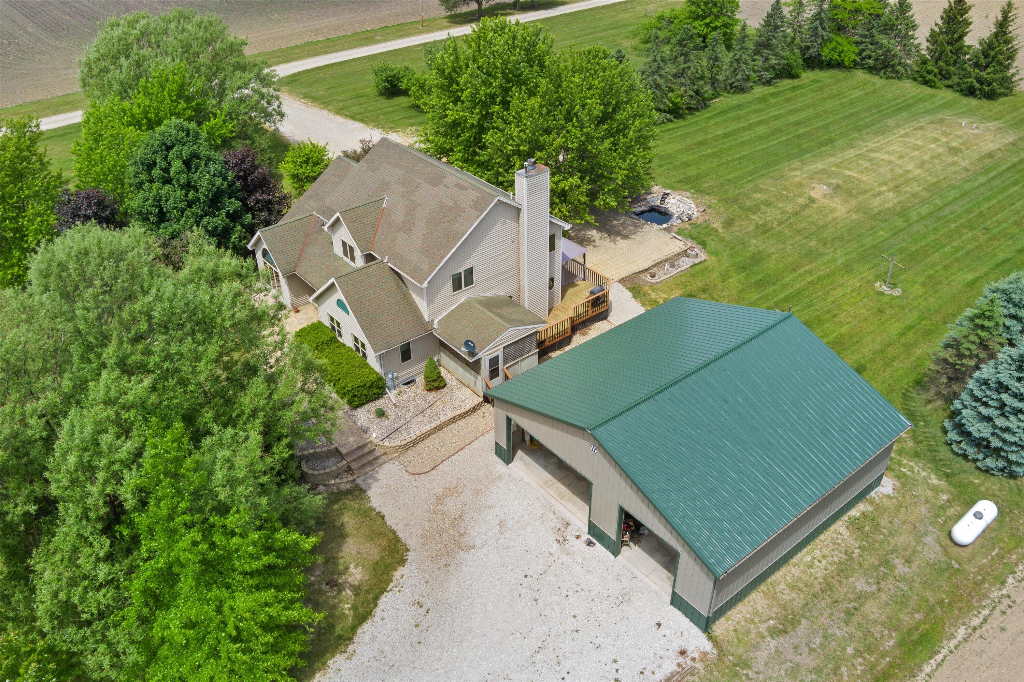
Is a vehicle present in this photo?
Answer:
No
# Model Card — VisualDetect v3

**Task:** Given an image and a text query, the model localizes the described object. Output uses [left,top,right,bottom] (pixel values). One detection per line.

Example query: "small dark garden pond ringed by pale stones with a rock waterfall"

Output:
[625,187,702,229]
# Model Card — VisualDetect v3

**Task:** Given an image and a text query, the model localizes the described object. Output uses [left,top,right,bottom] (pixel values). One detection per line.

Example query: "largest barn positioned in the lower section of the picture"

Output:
[483,297,914,642]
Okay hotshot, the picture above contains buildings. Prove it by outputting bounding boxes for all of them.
[483,297,914,642]
[247,136,573,404]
